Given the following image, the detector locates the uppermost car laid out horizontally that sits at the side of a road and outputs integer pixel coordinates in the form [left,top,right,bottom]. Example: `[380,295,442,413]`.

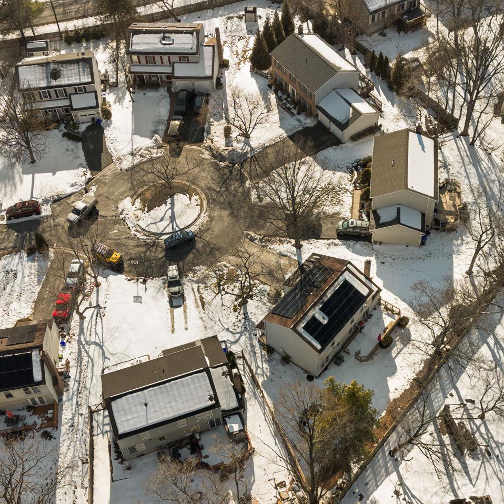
[6,199,41,219]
